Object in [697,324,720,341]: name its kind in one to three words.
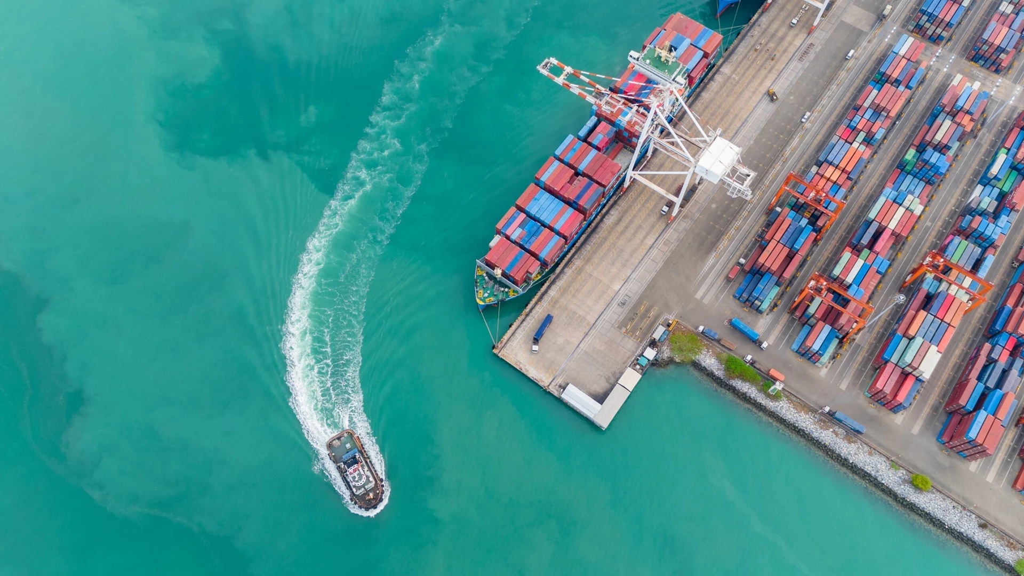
vehicle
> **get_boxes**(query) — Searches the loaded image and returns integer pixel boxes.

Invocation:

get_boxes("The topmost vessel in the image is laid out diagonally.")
[714,0,749,20]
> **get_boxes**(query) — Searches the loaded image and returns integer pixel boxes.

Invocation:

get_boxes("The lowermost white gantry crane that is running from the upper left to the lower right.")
[535,53,761,229]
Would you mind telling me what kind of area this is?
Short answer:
port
